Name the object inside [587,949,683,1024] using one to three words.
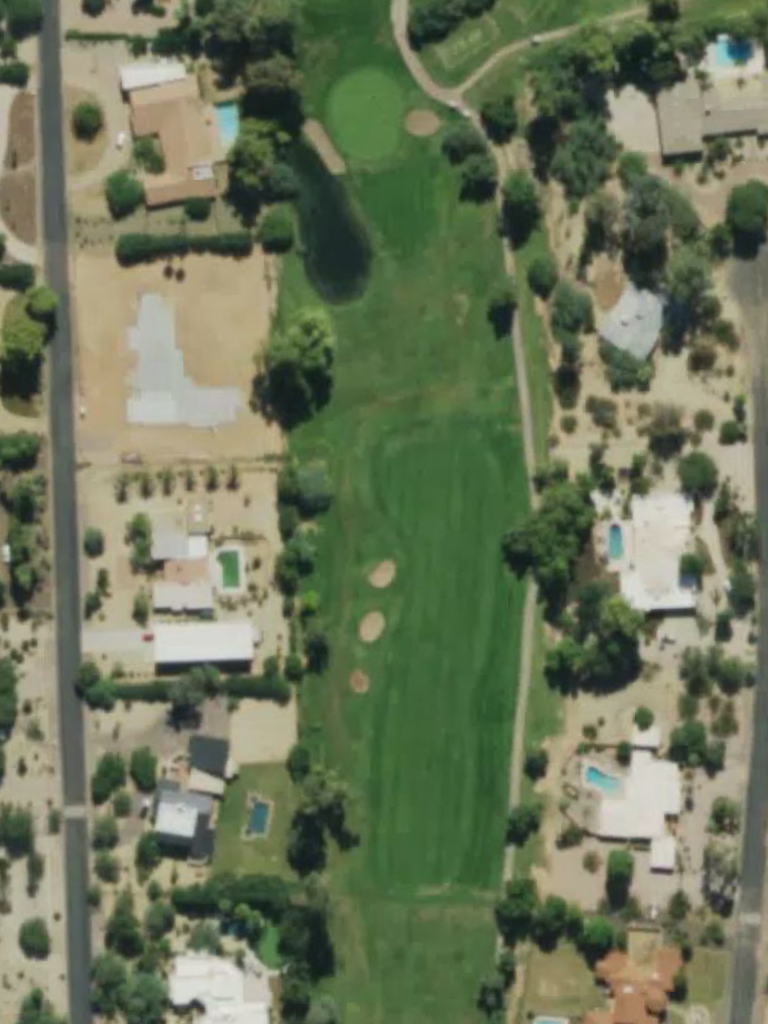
house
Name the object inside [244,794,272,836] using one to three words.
swimming pool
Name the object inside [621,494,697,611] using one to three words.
house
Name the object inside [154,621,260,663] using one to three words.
building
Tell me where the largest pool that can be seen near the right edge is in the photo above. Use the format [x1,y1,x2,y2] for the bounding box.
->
[715,35,754,67]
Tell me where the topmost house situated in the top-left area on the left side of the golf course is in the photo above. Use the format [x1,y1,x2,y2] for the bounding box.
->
[120,62,215,206]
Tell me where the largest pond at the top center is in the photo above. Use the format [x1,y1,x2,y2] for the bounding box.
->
[296,141,372,302]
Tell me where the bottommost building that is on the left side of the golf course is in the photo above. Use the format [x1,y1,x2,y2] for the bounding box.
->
[168,958,269,1024]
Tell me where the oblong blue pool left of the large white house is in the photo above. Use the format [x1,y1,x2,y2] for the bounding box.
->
[608,523,624,561]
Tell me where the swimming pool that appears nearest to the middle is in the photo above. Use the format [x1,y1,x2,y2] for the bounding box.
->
[217,550,241,588]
